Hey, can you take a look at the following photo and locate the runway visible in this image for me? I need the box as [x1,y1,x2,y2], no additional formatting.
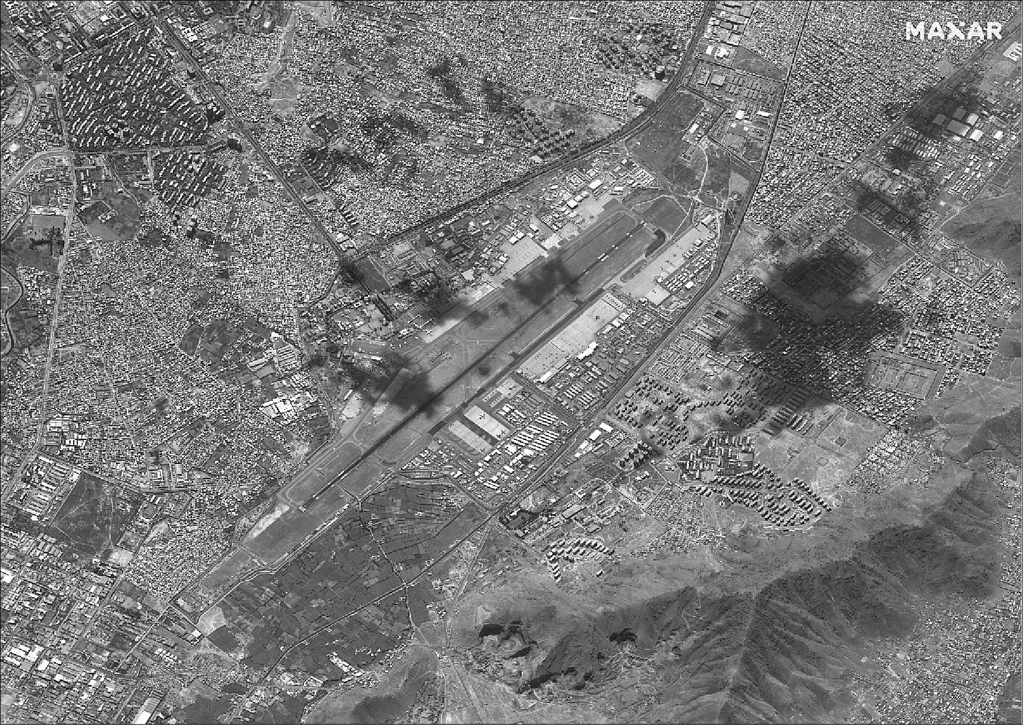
[298,219,646,513]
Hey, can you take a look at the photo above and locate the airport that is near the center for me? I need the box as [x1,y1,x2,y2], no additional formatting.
[170,193,721,621]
